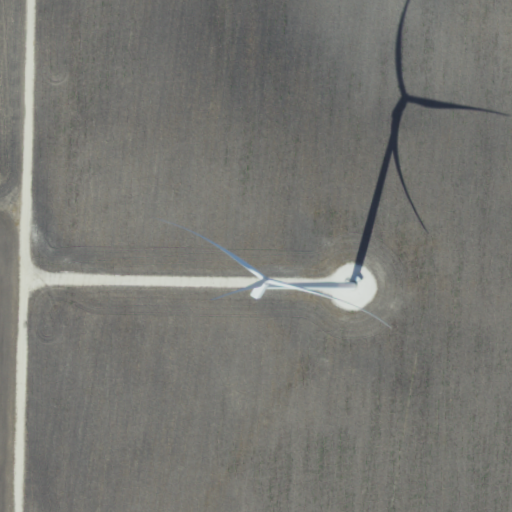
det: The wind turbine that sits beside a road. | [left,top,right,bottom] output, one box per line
[160,218,393,326]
